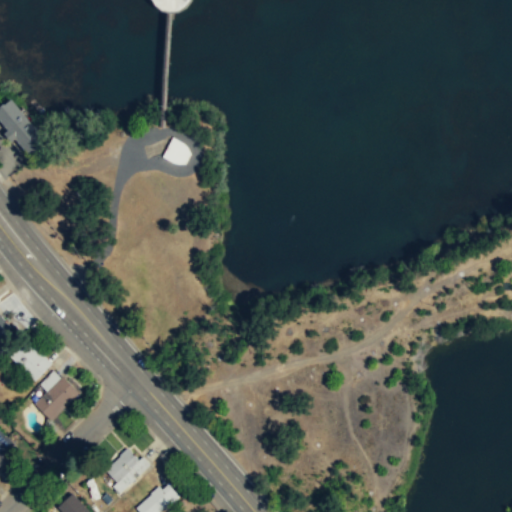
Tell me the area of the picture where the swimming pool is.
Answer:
bottom left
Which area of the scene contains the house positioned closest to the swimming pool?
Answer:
bottom left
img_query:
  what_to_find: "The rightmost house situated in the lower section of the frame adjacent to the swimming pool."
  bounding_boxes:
[36,370,78,420]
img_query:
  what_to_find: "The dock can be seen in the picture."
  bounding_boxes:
[152,0,193,129]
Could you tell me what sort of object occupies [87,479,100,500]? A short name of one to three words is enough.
vehicle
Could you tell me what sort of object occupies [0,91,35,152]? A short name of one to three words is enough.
house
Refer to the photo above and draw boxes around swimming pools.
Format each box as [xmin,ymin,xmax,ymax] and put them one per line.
[24,404,46,432]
